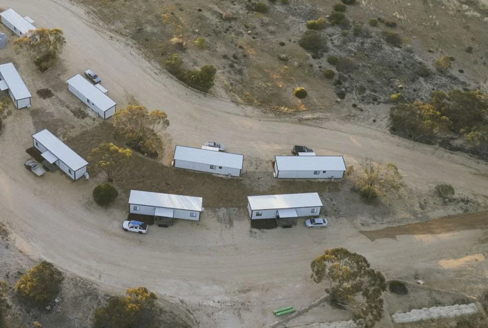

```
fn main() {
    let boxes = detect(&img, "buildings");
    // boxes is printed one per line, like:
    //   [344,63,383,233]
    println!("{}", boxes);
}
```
[174,145,243,179]
[67,74,119,119]
[274,152,347,180]
[31,127,90,180]
[0,61,34,109]
[128,188,203,227]
[247,190,323,227]
[0,8,39,38]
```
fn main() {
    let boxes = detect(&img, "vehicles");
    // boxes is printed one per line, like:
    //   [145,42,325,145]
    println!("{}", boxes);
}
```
[305,218,329,229]
[85,71,100,83]
[205,142,225,152]
[292,145,313,156]
[25,161,45,176]
[122,220,148,234]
